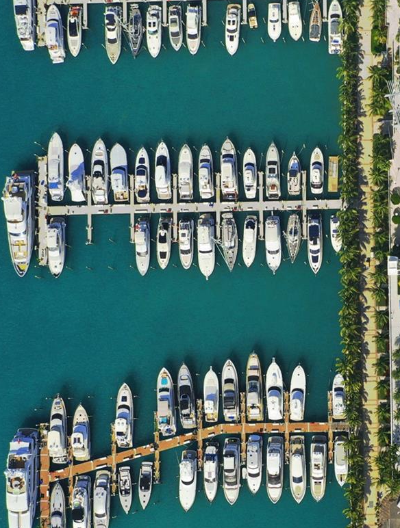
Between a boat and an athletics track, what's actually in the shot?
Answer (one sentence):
There is a boat in the scene.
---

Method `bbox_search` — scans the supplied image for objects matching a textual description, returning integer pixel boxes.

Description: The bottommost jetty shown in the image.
[41,391,341,528]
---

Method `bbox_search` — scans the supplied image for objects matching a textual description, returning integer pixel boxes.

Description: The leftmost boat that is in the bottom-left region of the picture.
[5,423,36,528]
